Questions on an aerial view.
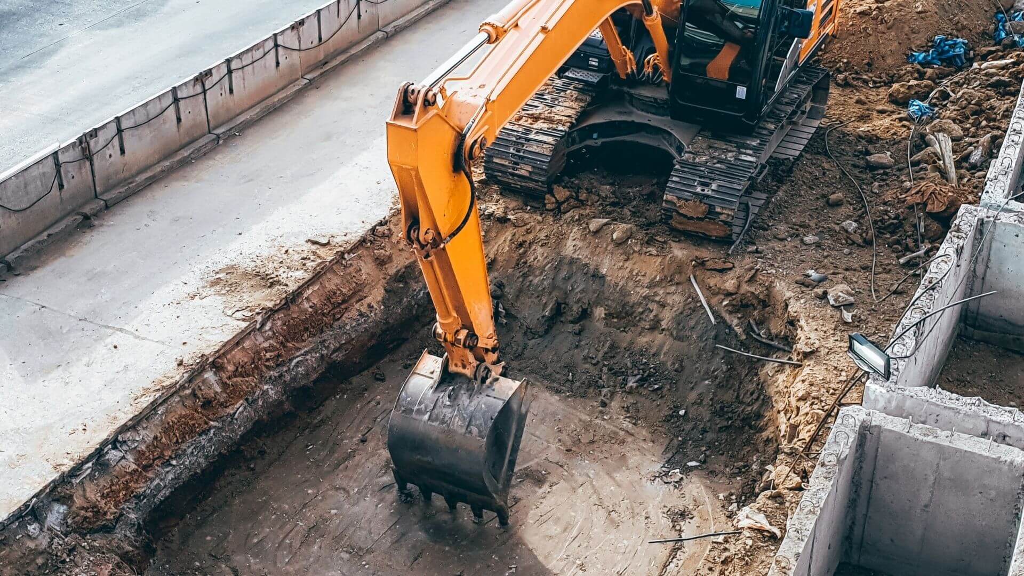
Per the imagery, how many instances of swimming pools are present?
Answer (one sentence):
There are no swimming pools in the image.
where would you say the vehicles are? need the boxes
[378,0,849,526]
